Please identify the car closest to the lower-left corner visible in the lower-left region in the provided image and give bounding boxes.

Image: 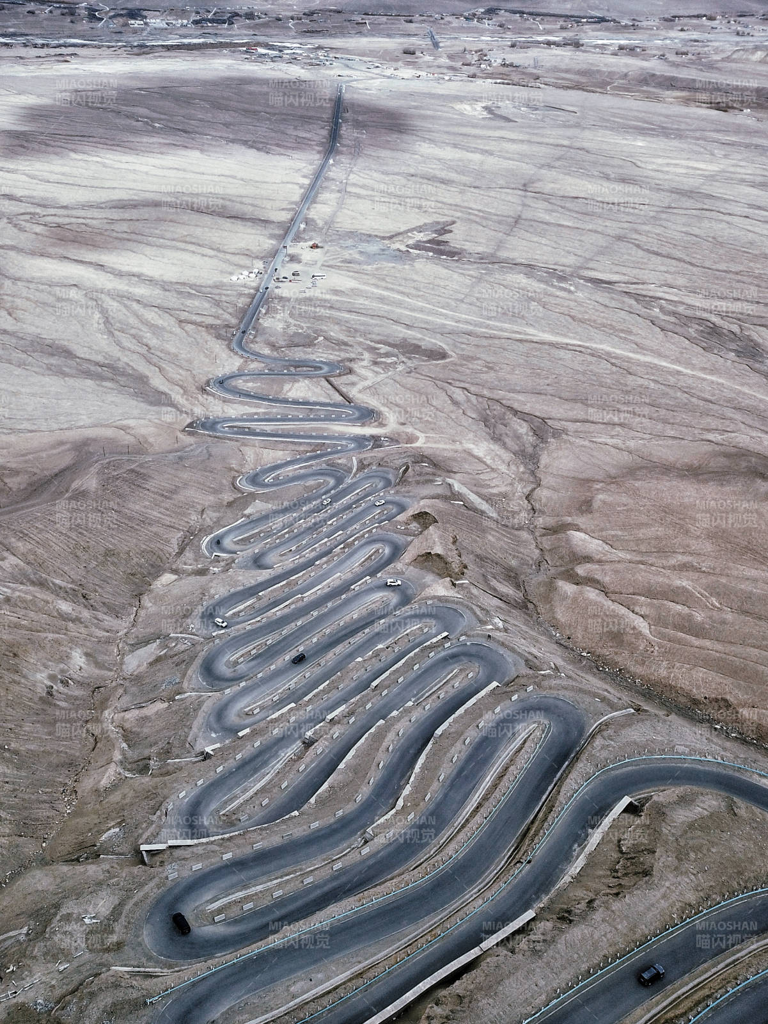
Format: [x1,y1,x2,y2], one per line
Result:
[174,910,189,936]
